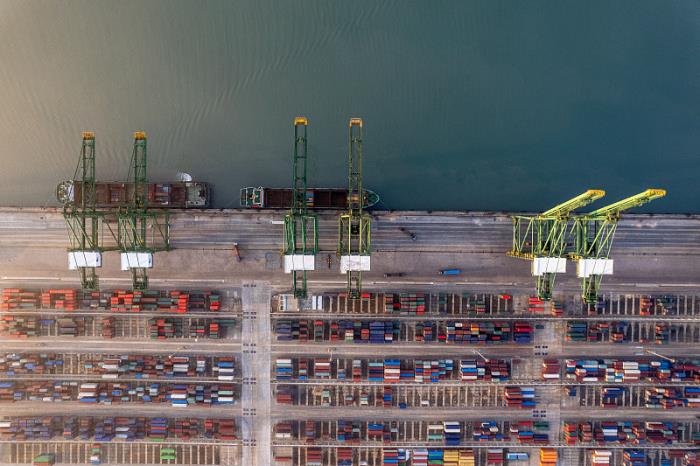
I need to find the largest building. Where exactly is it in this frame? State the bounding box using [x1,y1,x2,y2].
[278,294,297,311]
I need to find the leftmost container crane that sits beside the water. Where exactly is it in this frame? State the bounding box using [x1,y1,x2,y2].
[59,128,133,290]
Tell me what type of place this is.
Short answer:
port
